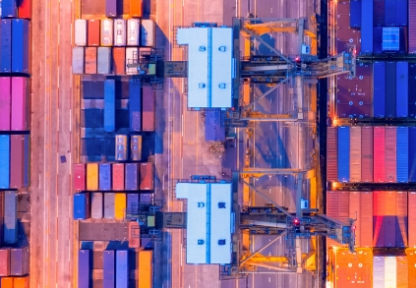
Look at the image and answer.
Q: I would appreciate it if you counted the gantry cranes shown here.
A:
two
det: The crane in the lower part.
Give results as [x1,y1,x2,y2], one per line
[116,144,370,285]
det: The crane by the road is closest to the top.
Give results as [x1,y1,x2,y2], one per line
[116,3,370,145]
